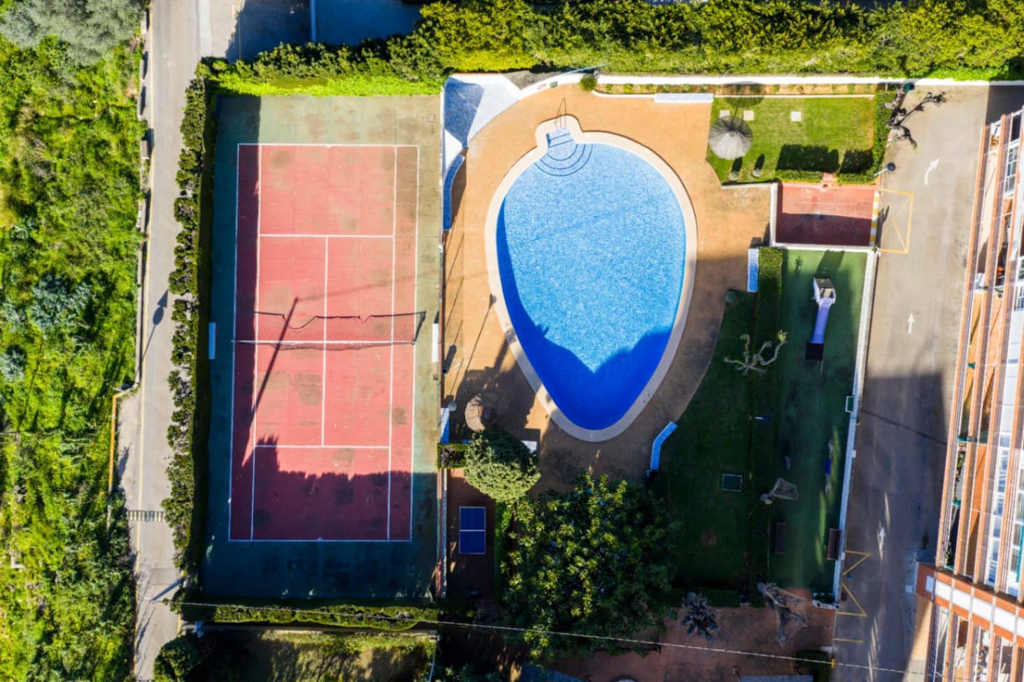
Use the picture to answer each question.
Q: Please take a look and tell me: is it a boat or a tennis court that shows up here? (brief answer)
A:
tennis court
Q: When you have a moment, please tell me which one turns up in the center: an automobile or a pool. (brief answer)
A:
pool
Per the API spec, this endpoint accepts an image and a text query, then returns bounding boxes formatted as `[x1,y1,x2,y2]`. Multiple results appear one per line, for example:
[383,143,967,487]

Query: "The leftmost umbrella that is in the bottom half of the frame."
[465,390,507,432]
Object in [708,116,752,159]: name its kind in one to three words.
umbrella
